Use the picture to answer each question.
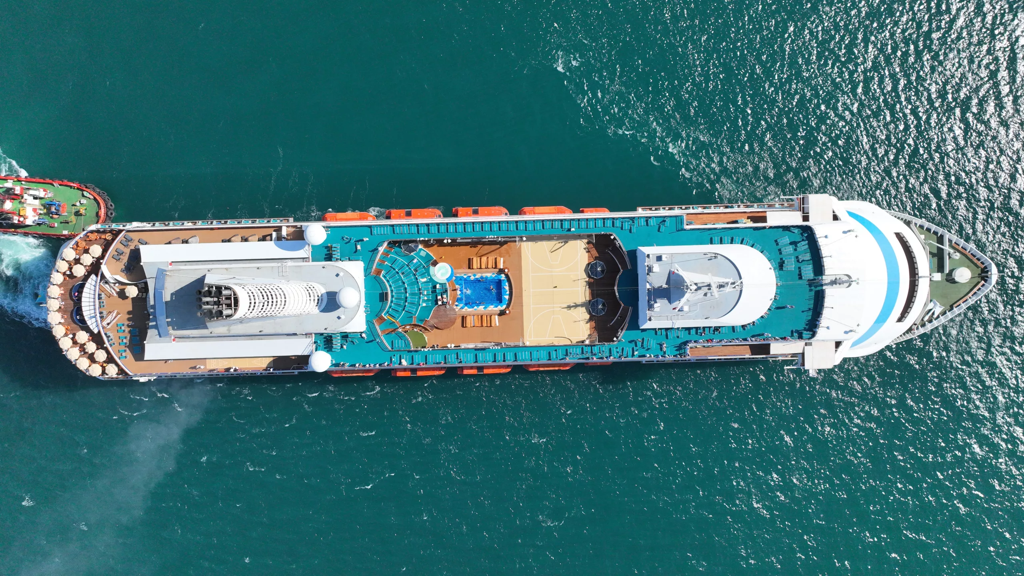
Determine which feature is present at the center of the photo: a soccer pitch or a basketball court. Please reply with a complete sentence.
Looking at the center of the photo, you will find a basketball court.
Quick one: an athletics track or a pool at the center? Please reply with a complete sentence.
The feature located at the center is a pool.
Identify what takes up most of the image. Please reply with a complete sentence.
For the most part, this view shows water.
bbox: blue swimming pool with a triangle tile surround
[451,268,515,316]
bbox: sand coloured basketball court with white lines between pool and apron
[521,240,590,344]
